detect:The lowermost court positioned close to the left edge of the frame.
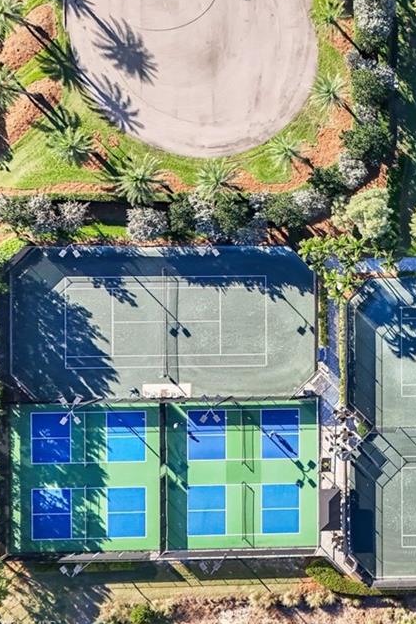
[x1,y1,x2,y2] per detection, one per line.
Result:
[9,475,156,553]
